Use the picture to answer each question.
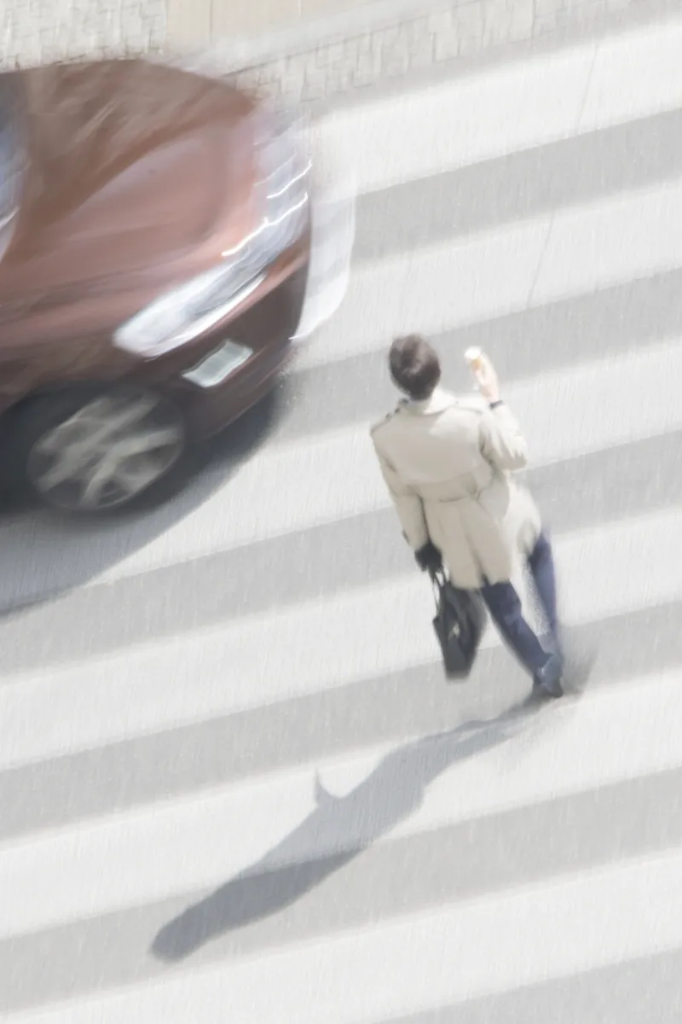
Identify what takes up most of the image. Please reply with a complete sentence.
The scene is dominated by paved ground.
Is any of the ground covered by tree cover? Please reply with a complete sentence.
No, there's no tree cover in this view.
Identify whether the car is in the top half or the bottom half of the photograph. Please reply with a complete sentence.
It is in the top half that the car appears.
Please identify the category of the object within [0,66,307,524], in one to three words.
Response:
car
